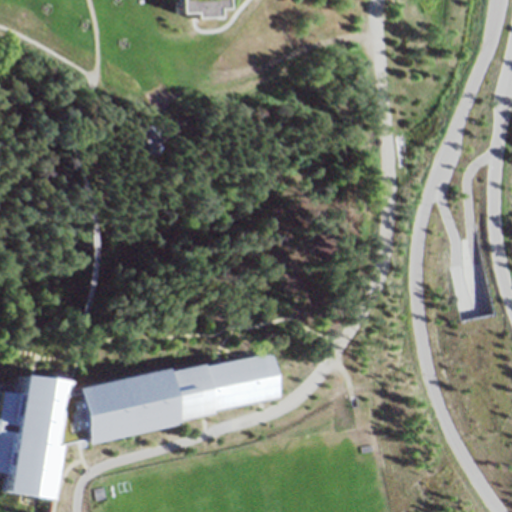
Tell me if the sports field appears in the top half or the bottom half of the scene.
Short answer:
bottom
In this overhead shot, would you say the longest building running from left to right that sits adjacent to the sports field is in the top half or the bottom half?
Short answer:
bottom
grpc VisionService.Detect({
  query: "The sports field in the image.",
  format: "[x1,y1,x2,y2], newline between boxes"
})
[85,437,383,512]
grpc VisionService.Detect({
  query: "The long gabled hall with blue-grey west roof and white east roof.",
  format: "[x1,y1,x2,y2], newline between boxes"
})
[84,354,281,445]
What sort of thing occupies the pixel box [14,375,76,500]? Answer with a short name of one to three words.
building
